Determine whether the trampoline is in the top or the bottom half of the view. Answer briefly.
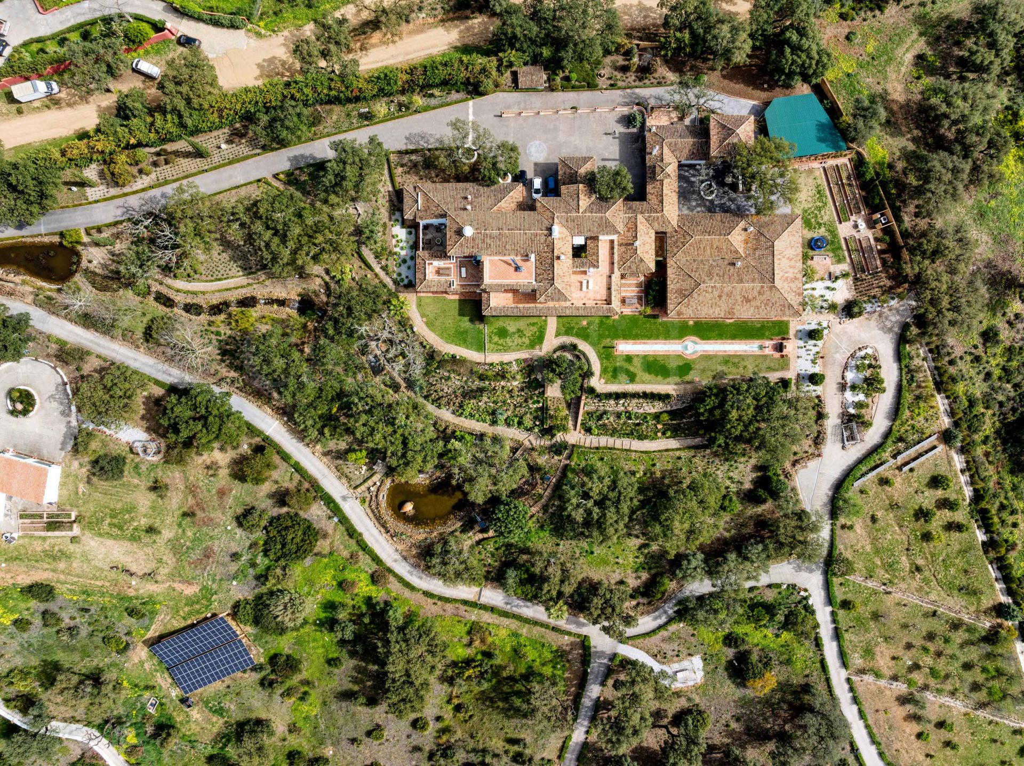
top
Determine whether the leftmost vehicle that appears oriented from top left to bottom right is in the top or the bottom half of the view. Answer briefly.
top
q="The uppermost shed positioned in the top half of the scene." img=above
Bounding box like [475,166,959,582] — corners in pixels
[518,65,543,92]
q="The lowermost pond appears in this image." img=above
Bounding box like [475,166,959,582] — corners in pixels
[387,481,465,523]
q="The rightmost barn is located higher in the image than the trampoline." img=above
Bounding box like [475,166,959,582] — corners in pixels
[760,93,847,158]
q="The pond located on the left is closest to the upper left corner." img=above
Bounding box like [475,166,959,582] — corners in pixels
[0,242,82,283]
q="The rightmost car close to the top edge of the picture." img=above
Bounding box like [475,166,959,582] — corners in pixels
[173,30,203,49]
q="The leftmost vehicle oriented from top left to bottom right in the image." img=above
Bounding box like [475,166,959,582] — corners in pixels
[128,54,159,79]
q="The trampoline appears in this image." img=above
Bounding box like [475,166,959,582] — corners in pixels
[811,231,834,251]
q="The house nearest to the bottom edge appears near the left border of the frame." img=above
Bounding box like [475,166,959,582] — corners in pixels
[0,450,60,521]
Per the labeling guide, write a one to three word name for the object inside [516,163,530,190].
car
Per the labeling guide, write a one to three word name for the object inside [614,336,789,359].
fountain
